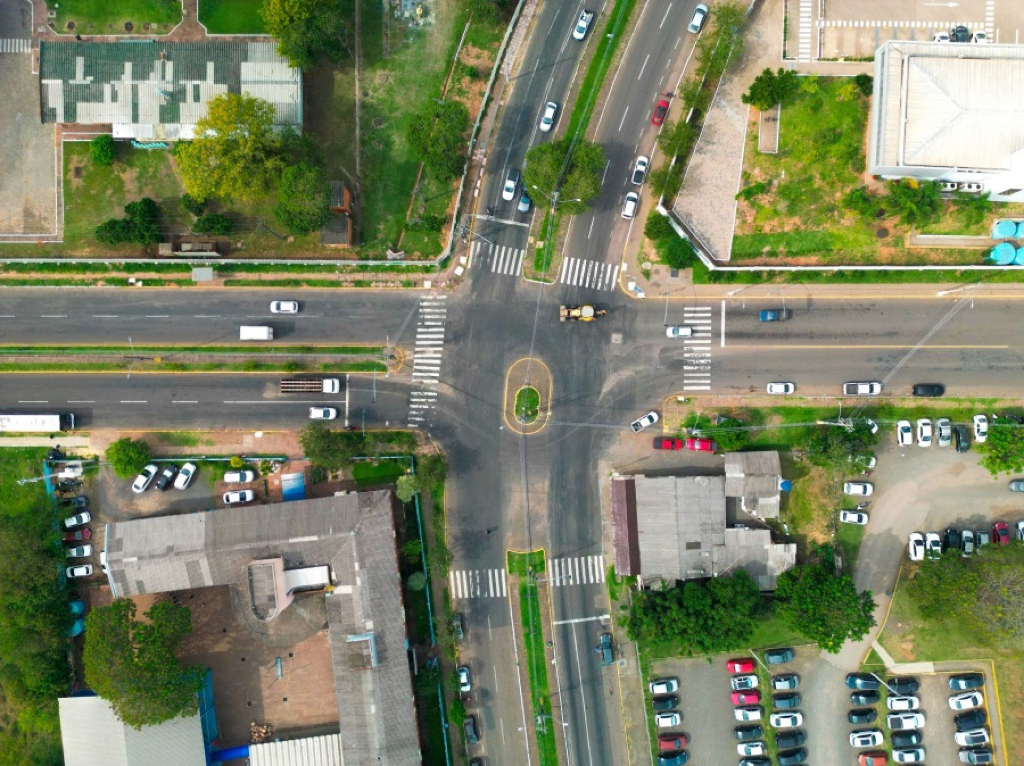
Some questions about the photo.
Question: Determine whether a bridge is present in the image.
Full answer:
No, the frame has no bridge in it.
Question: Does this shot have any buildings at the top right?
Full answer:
Yes, you'll find a building at the top right.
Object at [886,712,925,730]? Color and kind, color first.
white vehicle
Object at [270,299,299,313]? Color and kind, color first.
white car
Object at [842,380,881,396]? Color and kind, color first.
white vehicle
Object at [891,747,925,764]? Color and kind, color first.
white car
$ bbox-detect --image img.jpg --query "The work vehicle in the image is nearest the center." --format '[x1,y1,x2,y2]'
[560,306,608,322]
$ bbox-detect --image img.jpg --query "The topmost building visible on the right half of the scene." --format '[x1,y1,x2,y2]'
[870,40,1024,174]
